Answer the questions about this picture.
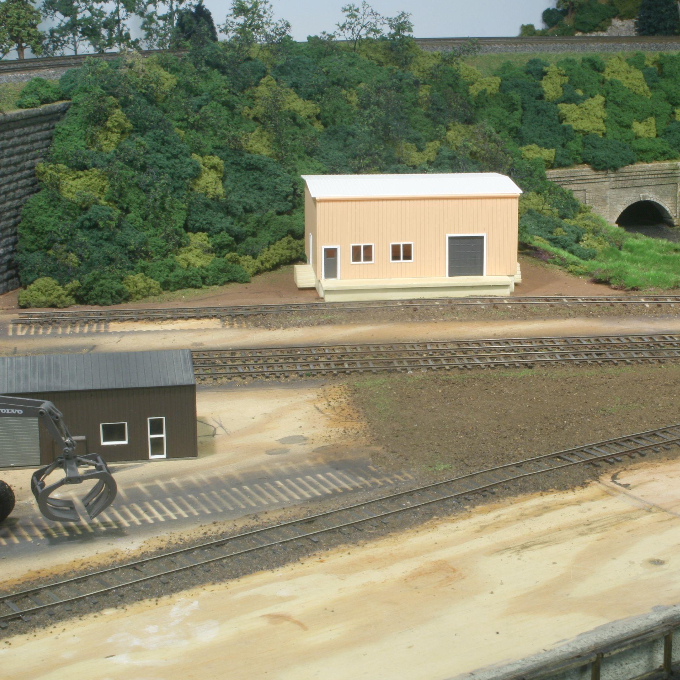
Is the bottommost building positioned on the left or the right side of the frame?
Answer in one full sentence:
The bottommost building is on the left side of the image.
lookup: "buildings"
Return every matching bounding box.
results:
[296,172,523,302]
[0,344,199,471]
